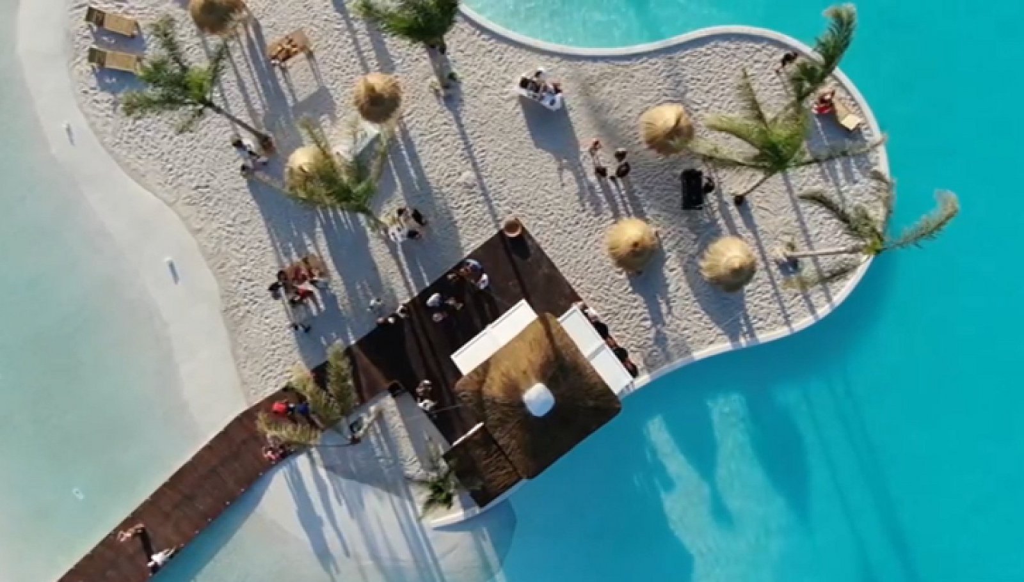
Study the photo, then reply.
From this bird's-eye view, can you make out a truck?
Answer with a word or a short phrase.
No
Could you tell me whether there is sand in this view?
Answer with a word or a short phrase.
Yes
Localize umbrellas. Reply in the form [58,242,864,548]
[353,74,404,125]
[192,0,251,44]
[287,145,334,195]
[693,238,751,295]
[635,104,687,155]
[604,220,656,274]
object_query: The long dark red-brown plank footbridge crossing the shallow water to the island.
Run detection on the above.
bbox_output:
[61,387,300,582]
